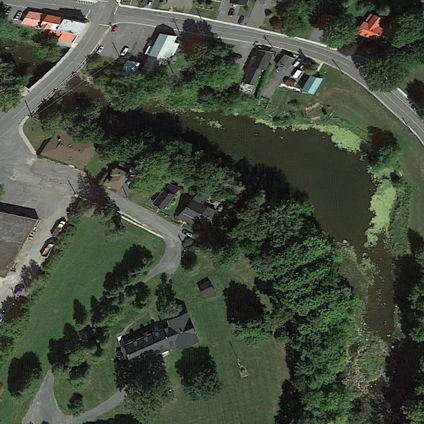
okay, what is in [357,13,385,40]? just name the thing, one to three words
house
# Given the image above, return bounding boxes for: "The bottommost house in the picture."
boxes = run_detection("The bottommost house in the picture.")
[116,310,201,361]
